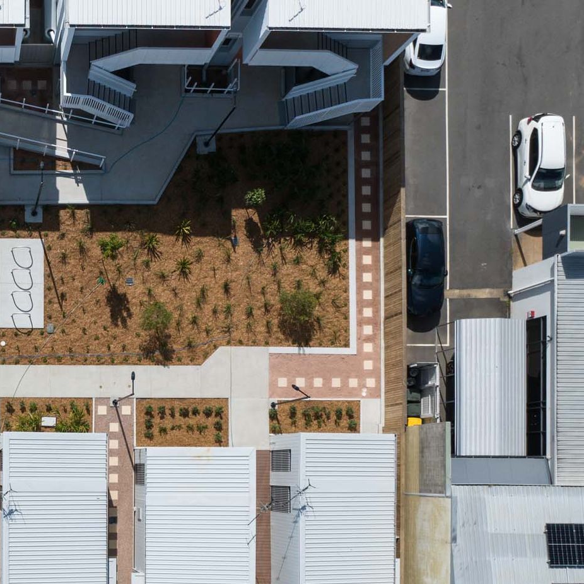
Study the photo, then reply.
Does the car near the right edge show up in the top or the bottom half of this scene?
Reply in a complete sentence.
You can find the car near the right edge in the top half.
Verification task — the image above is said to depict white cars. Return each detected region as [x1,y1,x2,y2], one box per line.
[513,111,572,213]
[415,0,449,73]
